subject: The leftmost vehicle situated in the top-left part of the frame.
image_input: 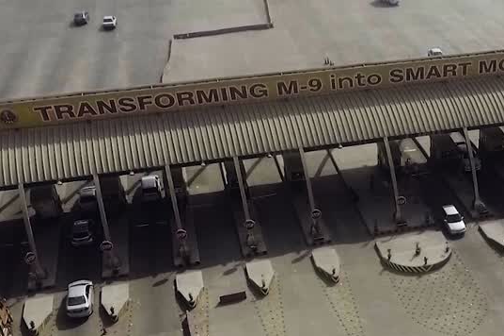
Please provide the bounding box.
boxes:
[74,11,91,25]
